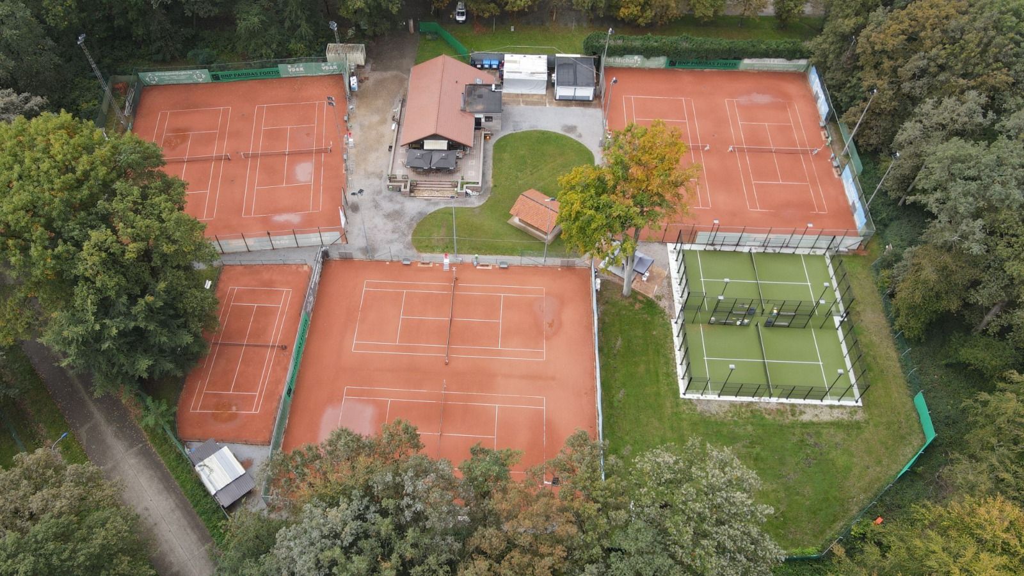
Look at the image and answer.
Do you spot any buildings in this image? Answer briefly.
Yes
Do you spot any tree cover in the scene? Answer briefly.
Yes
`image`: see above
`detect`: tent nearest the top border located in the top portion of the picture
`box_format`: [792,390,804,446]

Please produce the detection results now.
[501,54,549,93]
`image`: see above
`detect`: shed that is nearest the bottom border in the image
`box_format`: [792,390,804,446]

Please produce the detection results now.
[189,437,253,510]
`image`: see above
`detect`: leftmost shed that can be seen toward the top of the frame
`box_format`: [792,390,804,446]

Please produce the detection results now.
[324,38,367,67]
